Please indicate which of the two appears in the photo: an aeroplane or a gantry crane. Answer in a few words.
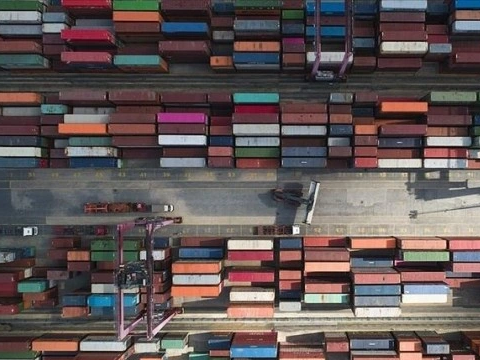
gantry crane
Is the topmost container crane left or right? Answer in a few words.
right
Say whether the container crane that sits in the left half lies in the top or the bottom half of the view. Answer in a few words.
bottom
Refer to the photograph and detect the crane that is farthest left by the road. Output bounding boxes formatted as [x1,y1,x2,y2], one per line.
[111,214,188,344]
